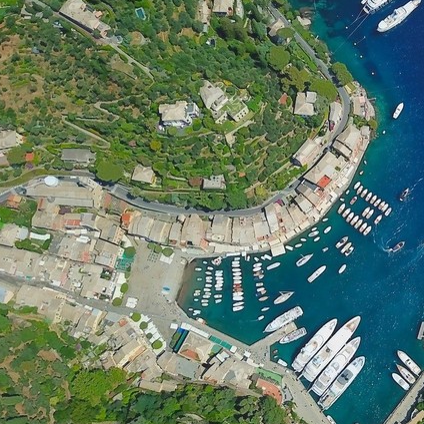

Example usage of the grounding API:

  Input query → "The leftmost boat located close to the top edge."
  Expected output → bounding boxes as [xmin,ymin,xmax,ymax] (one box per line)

[341,0,387,41]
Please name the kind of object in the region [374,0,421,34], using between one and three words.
boat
